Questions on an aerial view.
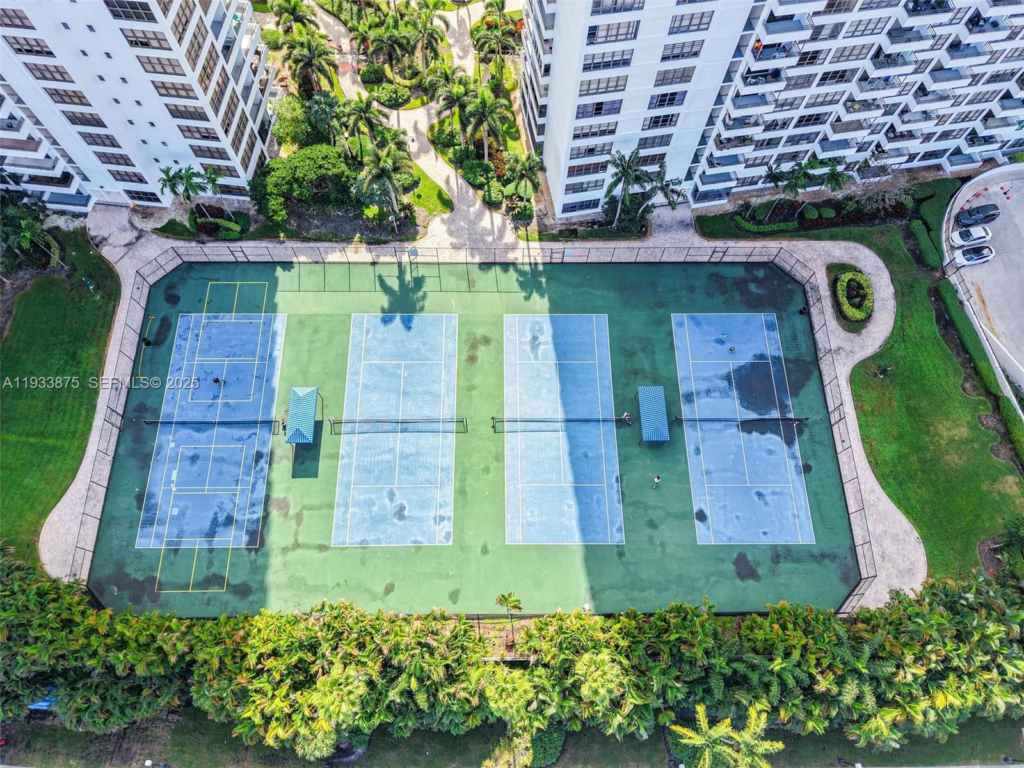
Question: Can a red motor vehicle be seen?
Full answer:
No, no red motor vehicle can be seen from above.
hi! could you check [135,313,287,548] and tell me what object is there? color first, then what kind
blue tennis court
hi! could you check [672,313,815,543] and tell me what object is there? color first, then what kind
blue tennis court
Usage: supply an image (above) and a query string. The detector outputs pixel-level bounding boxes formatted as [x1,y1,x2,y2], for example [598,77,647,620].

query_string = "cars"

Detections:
[955,201,1003,231]
[951,228,993,252]
[952,245,997,271]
